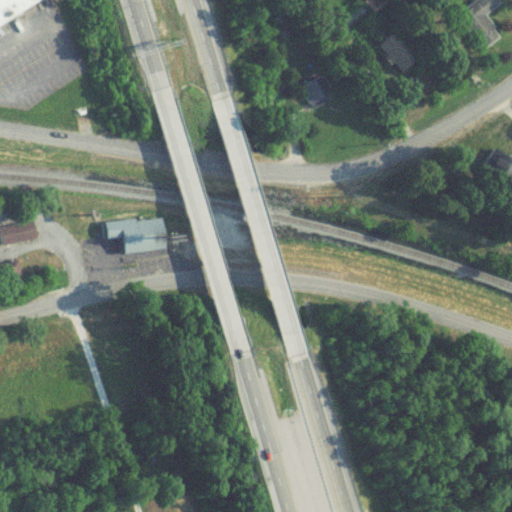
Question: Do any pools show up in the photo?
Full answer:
No, the photo shows no pool.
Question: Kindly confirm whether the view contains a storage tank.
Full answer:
No, no storage tank is visible in the view.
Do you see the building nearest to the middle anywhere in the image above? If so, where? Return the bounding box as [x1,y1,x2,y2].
[104,218,168,254]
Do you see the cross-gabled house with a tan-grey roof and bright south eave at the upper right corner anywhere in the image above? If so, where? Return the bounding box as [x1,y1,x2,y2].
[467,0,504,47]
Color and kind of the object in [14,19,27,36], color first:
white vehicle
